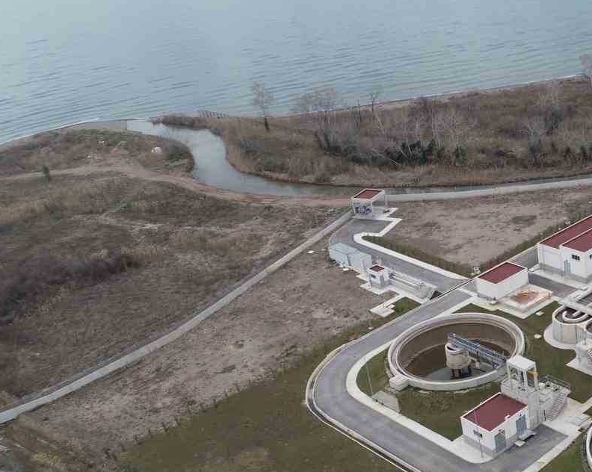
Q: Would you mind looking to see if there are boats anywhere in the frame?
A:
No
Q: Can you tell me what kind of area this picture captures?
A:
industrial area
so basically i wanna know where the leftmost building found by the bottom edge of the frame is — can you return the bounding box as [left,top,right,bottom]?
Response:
[461,393,537,457]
